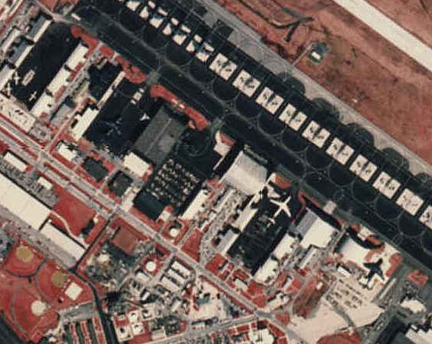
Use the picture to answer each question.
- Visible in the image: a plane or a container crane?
plane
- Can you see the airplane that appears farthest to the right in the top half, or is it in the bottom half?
bottom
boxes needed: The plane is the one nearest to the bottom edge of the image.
[361,259,382,286]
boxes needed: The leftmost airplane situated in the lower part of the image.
[267,196,289,222]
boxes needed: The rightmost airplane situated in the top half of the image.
[191,35,214,61]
